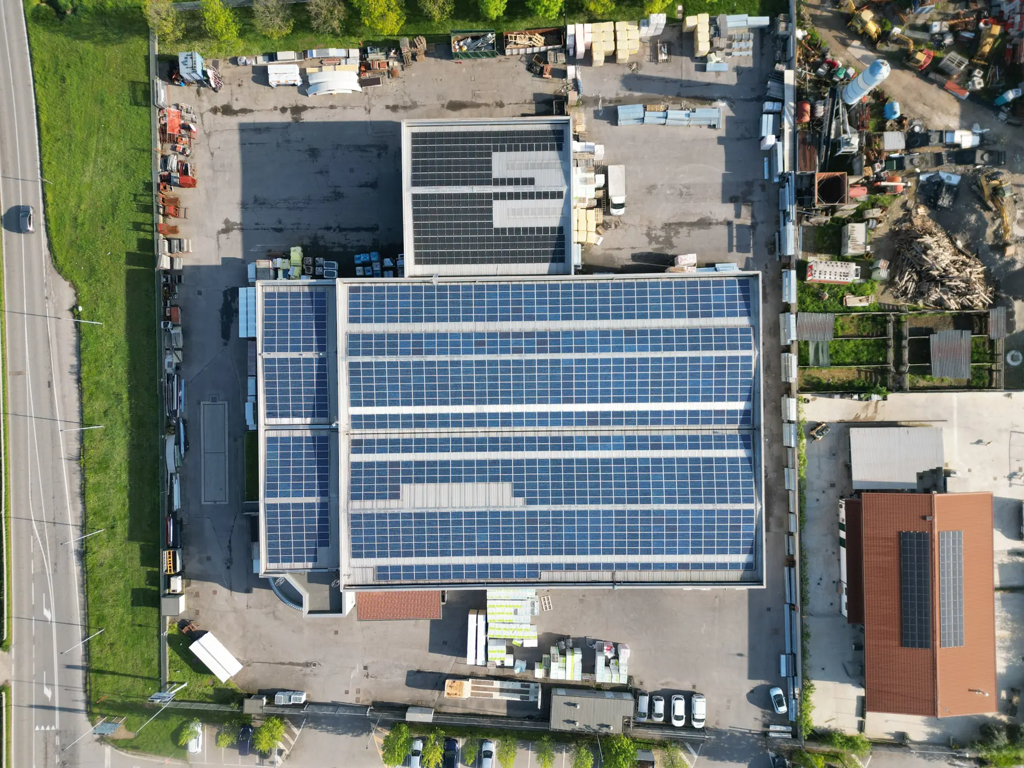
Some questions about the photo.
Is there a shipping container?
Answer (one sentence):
Yes, I can see a shipping container in this picture.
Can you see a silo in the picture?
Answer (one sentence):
Yes, a silo is visible in the scene.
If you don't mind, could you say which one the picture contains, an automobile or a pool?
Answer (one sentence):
It is an automobile that can be seen here.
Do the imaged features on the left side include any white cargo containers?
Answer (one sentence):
Yes, a white cargo container appears on the left side.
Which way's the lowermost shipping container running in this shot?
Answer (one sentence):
Seen from above, the lowermost shipping container lies diagonally.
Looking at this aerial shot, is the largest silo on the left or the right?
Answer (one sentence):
It is on the right.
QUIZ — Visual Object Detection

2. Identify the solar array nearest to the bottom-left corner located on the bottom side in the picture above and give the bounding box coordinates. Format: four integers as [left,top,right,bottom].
[265,504,328,565]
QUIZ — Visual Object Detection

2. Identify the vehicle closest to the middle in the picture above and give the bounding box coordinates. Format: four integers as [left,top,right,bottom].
[607,161,626,217]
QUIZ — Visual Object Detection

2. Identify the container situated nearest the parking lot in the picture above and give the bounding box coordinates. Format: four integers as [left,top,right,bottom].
[189,633,240,684]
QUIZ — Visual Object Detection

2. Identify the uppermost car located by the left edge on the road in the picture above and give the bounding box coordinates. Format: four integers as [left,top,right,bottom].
[17,204,35,236]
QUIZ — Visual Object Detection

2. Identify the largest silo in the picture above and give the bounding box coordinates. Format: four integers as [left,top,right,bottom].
[837,59,892,114]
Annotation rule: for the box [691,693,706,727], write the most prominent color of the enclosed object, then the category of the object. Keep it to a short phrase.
white car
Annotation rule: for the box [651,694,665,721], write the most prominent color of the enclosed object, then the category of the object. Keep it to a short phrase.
white car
